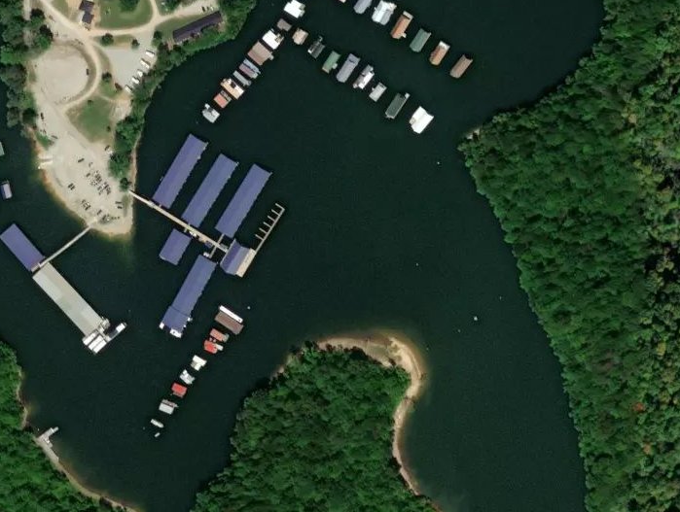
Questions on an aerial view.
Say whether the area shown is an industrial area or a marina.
marina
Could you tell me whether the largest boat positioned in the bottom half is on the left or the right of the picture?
left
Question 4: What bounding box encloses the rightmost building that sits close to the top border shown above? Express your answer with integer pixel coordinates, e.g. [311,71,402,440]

[173,10,223,43]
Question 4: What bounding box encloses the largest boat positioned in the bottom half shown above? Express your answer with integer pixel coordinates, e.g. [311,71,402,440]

[215,310,244,334]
